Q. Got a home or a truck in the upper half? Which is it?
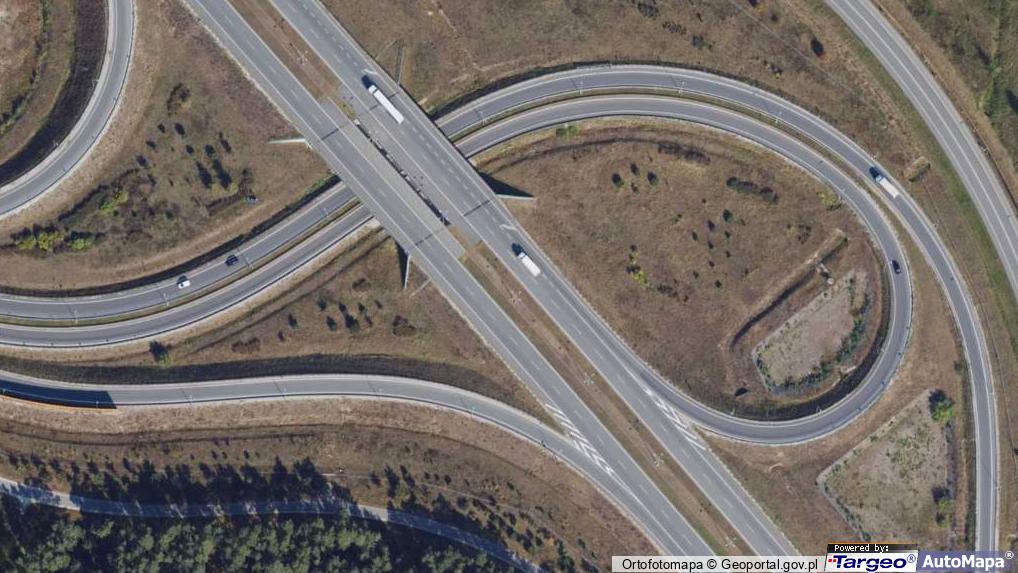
truck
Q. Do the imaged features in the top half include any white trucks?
Yes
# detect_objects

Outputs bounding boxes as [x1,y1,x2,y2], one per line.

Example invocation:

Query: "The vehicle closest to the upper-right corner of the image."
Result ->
[876,174,900,198]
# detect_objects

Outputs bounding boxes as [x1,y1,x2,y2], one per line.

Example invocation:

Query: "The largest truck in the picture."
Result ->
[369,84,405,123]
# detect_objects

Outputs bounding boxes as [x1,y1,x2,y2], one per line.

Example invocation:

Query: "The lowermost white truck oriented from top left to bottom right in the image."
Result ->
[518,252,541,277]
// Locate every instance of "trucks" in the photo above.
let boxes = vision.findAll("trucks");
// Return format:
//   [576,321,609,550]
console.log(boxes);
[369,84,405,123]
[876,174,900,198]
[518,252,541,277]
